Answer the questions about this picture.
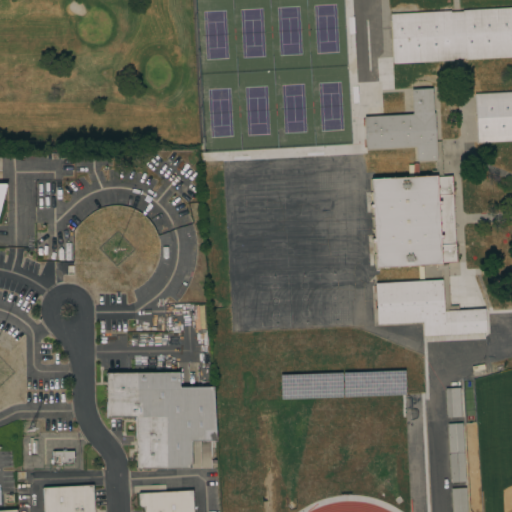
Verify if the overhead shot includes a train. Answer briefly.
No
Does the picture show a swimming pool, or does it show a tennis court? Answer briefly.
tennis court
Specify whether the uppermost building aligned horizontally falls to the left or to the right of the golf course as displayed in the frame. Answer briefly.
on its right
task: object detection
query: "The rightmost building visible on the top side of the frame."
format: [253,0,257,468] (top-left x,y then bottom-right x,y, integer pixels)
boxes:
[476,92,512,142]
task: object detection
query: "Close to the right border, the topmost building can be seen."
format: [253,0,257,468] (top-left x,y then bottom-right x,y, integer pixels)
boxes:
[392,8,512,63]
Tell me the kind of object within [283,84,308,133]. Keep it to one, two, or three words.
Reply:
tennis court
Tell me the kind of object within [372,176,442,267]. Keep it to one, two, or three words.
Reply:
building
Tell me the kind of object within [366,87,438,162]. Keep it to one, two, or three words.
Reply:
building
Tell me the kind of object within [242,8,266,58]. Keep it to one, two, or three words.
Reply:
tennis court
